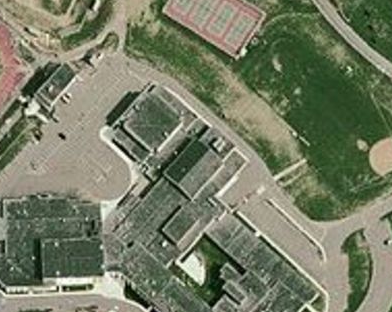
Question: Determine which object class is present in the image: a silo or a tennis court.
tennis court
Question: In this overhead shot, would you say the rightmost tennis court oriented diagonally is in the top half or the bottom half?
top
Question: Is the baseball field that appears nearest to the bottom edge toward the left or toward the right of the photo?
right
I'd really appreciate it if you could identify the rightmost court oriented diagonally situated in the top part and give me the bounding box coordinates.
[225,13,255,49]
